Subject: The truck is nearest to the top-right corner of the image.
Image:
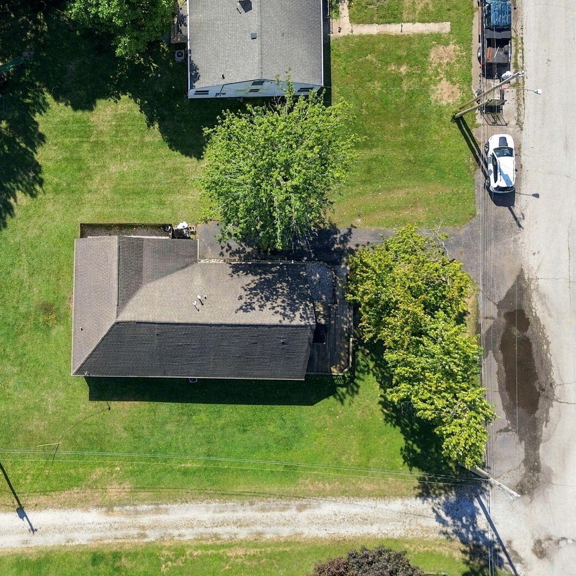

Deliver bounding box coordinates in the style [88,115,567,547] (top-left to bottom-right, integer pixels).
[478,0,515,67]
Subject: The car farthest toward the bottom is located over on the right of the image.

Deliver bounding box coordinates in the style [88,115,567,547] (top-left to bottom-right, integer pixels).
[481,135,517,197]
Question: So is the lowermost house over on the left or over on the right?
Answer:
left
